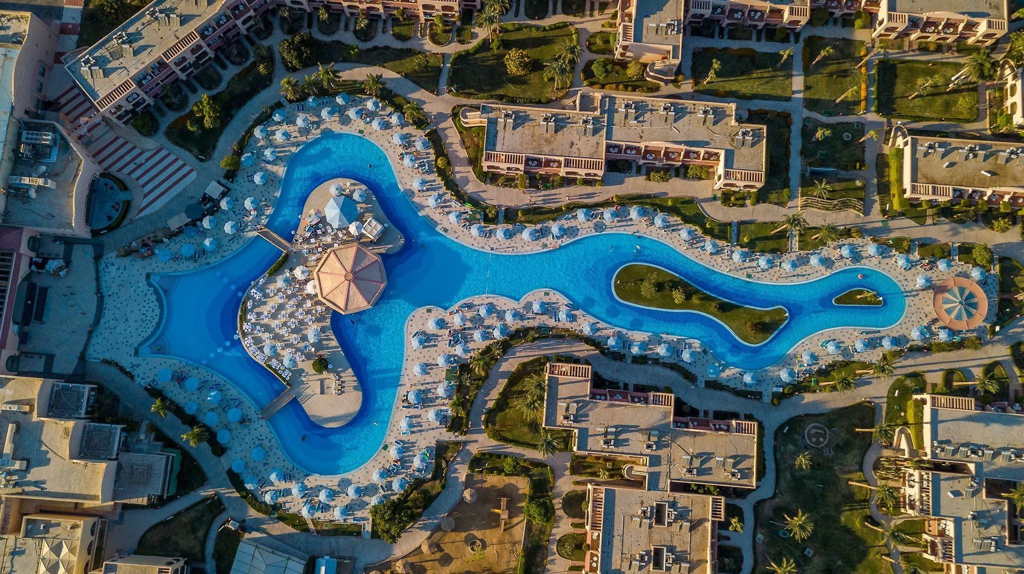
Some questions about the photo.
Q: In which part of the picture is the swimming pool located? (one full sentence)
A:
The swimming pool is in the center part of the image.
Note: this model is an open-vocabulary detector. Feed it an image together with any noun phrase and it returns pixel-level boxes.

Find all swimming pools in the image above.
[136,129,909,479]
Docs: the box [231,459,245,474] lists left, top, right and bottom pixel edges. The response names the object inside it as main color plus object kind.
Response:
blue umbrella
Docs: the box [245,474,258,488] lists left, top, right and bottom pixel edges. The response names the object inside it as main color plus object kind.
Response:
blue umbrella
